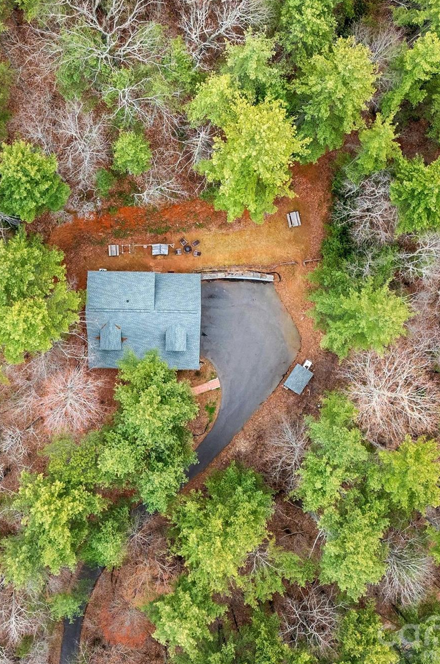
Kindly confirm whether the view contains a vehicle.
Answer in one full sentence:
No, I can see no vehicle in this picture.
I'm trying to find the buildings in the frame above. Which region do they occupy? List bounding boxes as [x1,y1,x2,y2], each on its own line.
[86,271,201,371]
[283,363,313,395]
